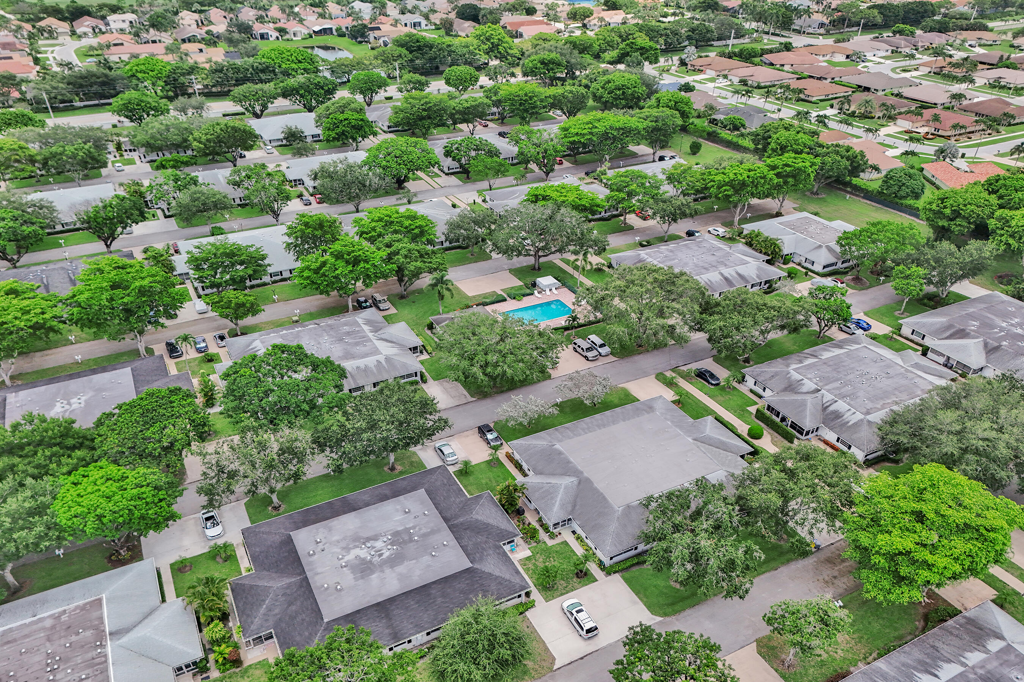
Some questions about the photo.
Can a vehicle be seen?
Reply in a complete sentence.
Yes, the image includes a vehicle.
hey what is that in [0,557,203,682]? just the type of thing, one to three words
house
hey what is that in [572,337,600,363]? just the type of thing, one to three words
car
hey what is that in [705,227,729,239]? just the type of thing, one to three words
vehicle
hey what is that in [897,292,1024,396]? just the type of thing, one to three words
house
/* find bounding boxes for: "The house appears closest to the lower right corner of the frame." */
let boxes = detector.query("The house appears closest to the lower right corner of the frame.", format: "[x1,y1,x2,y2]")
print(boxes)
[841,599,1024,682]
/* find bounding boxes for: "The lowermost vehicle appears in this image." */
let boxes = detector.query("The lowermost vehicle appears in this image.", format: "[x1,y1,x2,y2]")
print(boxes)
[559,592,603,640]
